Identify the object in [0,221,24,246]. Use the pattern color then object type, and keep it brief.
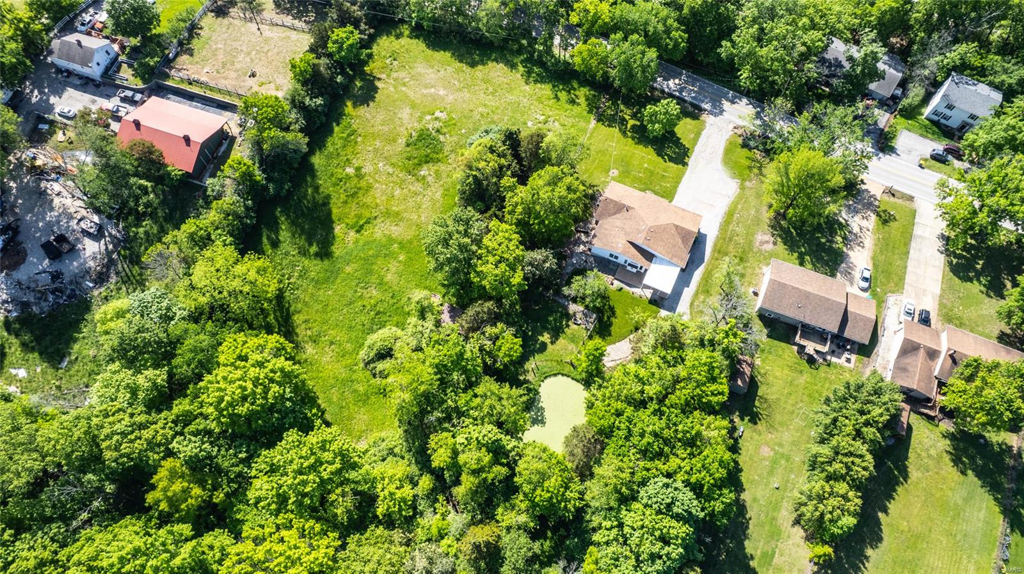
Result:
black work vehicle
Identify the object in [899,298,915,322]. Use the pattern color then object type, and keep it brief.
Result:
white car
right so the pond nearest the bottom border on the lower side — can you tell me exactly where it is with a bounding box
[504,377,588,454]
